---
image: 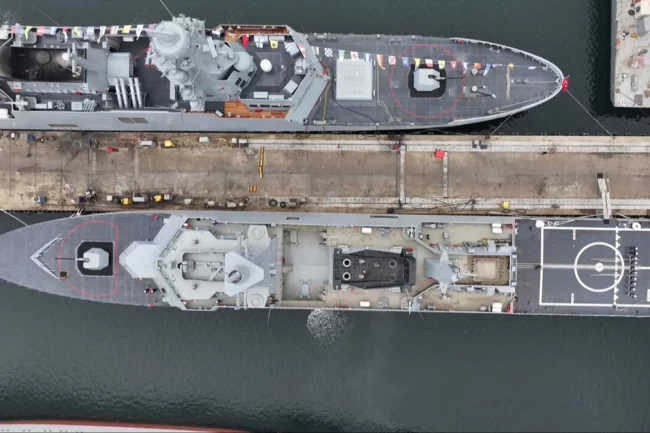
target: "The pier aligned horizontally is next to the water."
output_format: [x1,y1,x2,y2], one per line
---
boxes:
[0,131,650,217]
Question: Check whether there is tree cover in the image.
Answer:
No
